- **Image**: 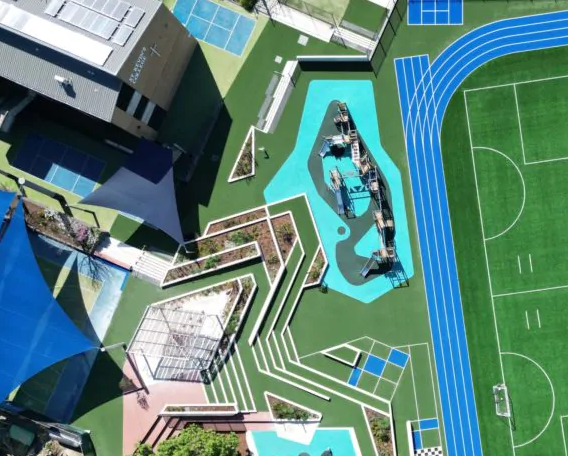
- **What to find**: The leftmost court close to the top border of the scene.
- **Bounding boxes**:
[171,0,257,56]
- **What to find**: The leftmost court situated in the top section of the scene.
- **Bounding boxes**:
[7,130,106,199]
